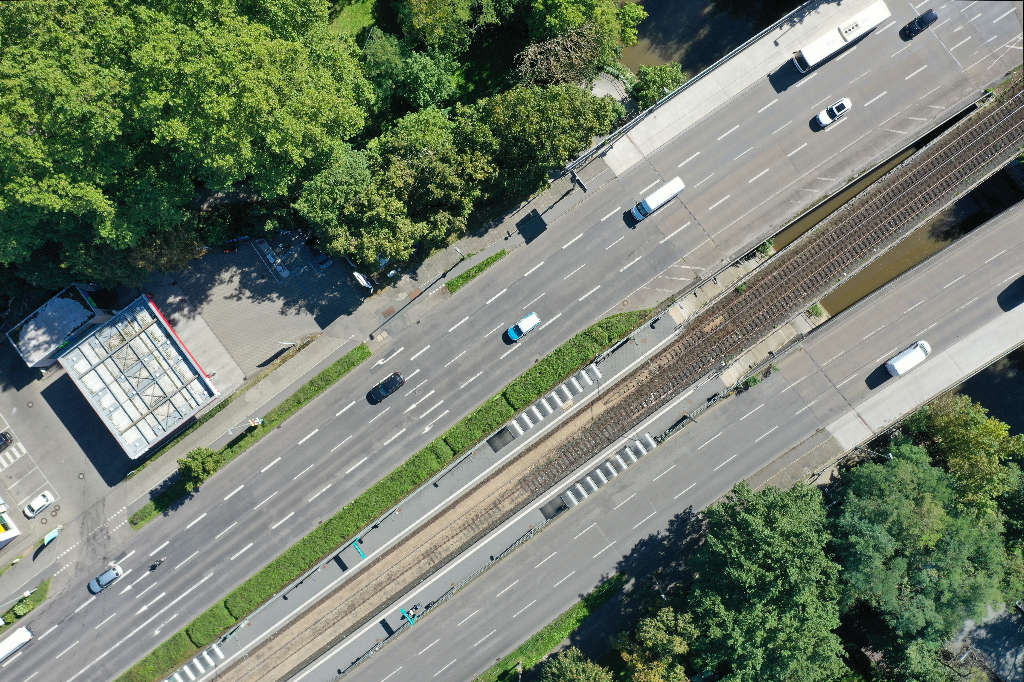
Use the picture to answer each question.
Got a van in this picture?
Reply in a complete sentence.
Yes, the frame does contain a van.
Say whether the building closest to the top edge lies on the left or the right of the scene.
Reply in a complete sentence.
You can find the building closest to the top edge on the left side of the picture.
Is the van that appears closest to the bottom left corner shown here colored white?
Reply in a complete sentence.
Yes, the van that appears closest to the bottom left corner is white.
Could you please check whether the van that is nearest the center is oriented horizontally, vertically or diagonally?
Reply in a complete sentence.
The van that is nearest the center has been laid out diagonally relative to the frame.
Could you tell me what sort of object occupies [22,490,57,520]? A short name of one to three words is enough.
car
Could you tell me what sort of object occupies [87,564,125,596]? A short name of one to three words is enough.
car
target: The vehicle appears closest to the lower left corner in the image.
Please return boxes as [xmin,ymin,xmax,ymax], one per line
[0,628,32,665]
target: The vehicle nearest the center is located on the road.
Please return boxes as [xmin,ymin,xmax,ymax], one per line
[505,310,543,342]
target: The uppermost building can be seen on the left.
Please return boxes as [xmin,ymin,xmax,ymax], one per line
[6,283,125,367]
